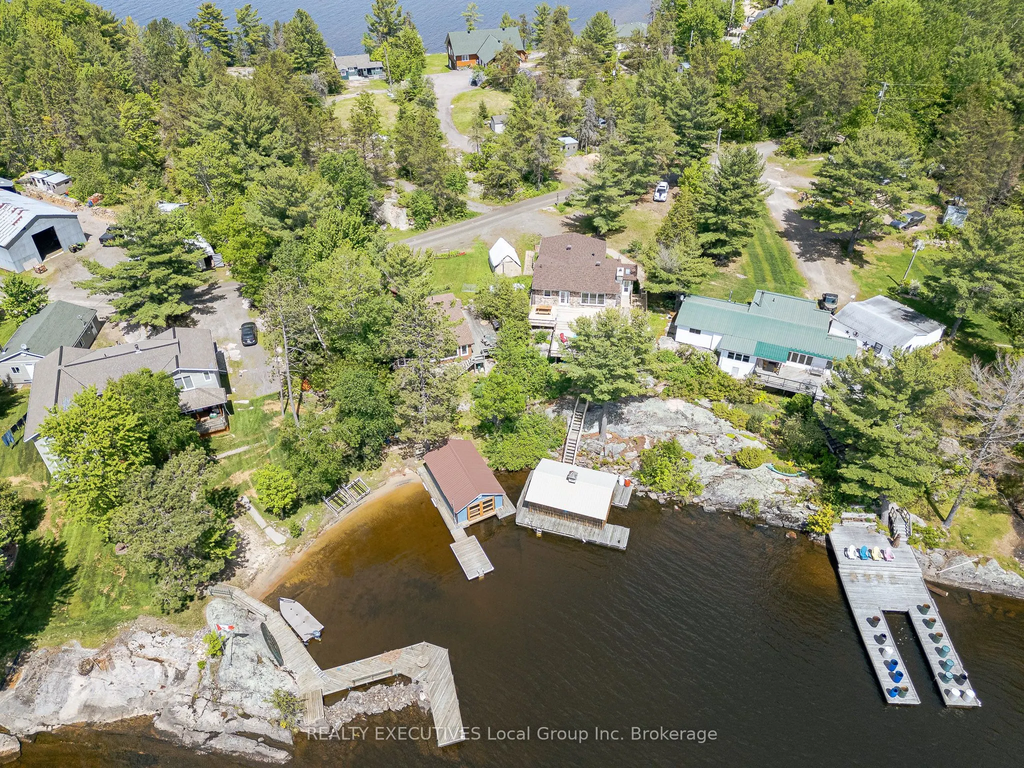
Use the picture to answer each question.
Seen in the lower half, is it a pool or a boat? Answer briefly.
boat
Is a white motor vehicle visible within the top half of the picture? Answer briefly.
Yes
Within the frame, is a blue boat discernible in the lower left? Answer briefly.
No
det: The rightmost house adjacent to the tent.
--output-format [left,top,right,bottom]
[527,228,639,364]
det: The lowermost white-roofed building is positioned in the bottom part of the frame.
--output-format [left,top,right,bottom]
[525,460,620,530]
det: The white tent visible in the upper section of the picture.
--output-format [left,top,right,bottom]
[492,235,527,277]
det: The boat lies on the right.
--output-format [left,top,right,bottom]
[766,460,805,476]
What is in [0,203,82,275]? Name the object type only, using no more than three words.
barn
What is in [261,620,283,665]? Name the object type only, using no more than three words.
boat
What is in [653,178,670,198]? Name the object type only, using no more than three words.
car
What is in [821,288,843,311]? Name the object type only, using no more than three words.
vehicle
